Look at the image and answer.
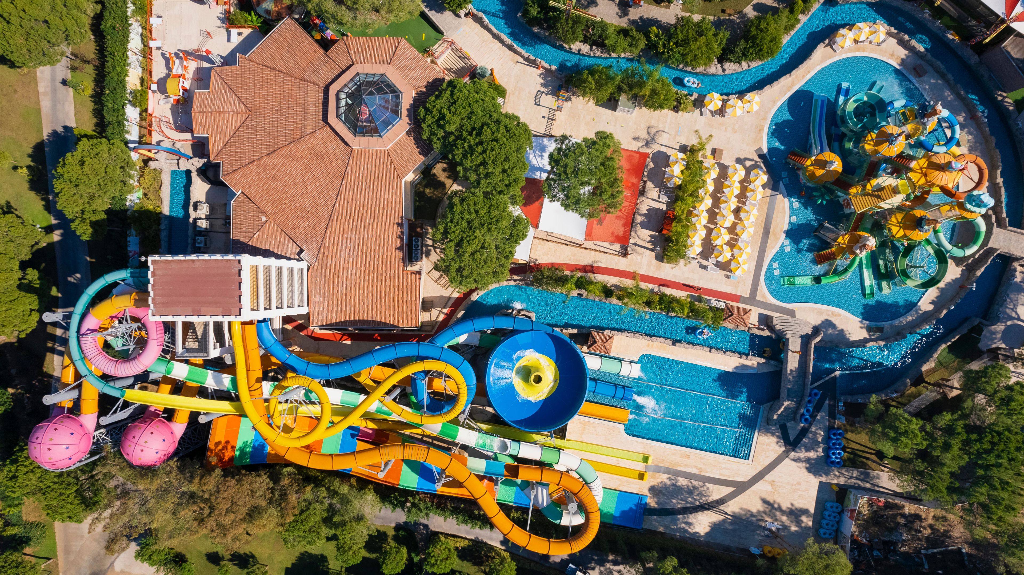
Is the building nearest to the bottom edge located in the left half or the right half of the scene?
right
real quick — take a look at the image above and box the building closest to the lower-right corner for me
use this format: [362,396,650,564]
[921,373,959,402]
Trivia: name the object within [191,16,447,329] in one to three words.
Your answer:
building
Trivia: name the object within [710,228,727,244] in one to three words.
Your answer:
umbrella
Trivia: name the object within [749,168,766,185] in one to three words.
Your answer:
umbrella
